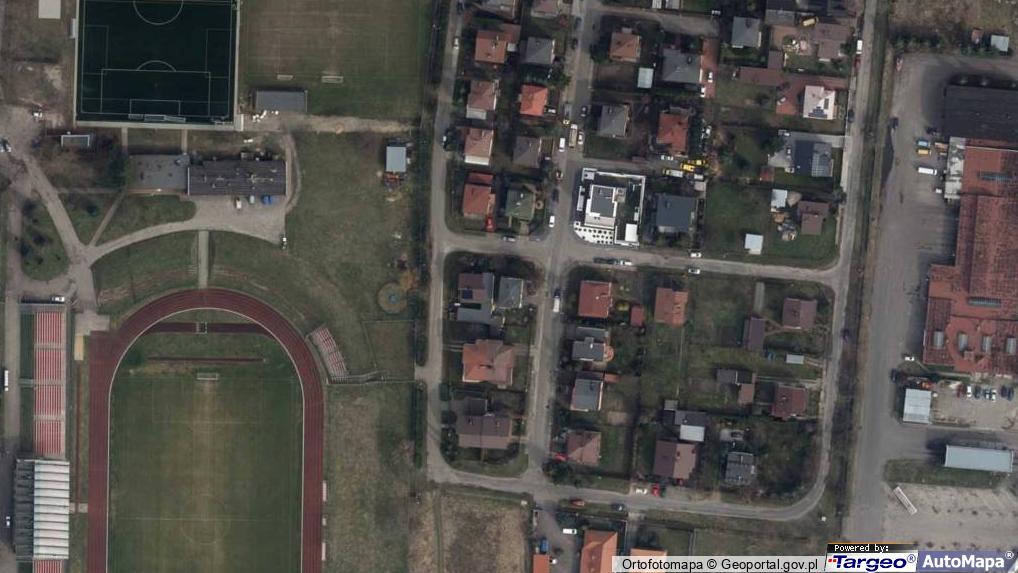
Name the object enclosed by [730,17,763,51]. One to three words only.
house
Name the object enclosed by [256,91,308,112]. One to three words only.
shed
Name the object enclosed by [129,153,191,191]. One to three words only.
building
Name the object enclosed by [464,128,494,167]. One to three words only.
house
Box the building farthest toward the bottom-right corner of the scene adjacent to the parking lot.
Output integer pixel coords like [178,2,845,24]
[946,446,1015,472]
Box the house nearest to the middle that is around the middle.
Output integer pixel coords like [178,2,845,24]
[497,278,525,308]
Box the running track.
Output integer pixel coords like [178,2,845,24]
[77,287,323,573]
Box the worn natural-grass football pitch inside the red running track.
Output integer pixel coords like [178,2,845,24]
[108,309,300,573]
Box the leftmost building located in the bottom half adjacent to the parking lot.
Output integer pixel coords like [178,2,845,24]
[905,388,933,425]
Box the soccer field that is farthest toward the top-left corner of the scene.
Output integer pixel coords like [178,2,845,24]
[77,0,237,122]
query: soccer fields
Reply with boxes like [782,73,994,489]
[77,0,237,122]
[247,0,417,79]
[108,309,300,573]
